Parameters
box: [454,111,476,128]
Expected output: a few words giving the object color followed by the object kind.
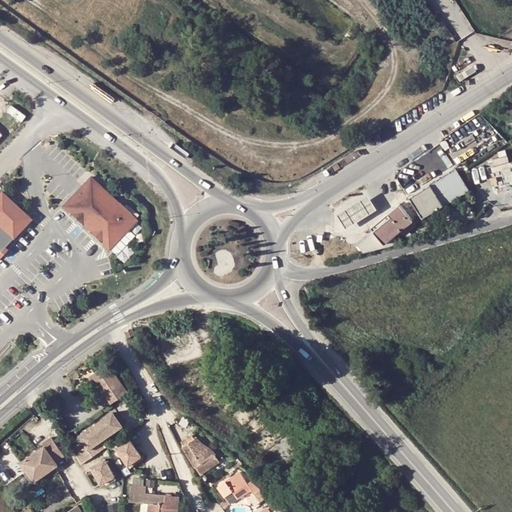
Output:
white vehicle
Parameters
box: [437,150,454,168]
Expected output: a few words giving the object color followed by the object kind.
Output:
white vehicle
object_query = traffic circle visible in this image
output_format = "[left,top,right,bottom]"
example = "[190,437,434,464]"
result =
[174,197,282,305]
